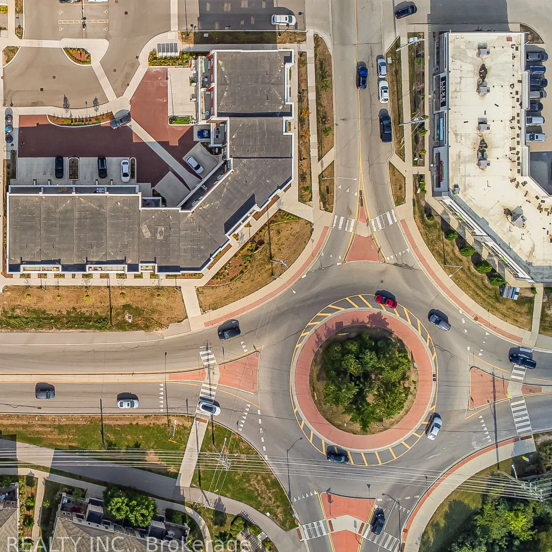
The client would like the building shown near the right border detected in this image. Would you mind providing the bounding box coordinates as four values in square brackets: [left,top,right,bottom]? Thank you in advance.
[432,34,552,283]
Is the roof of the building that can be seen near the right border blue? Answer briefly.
No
